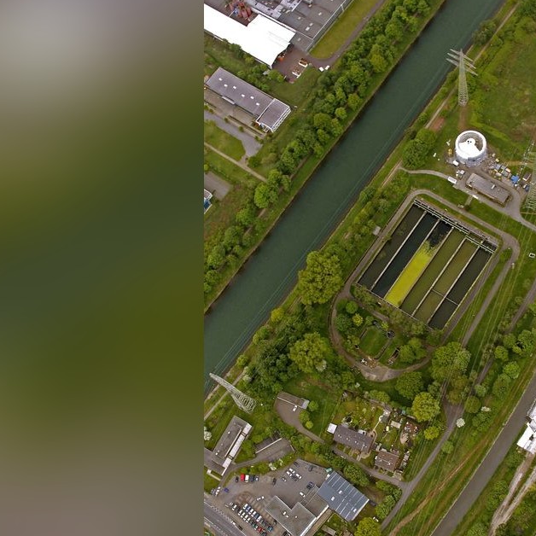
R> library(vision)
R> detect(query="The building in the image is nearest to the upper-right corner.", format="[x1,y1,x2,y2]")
[467,173,511,206]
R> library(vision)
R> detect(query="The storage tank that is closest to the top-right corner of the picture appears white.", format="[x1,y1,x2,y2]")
[455,131,486,166]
